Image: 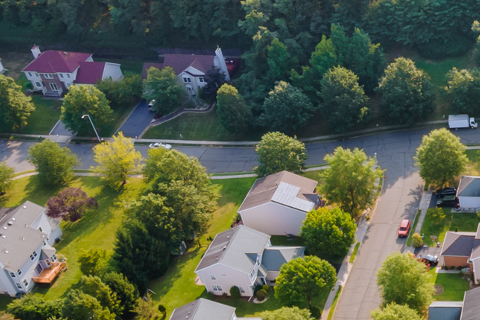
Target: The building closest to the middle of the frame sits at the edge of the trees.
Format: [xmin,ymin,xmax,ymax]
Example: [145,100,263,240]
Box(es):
[235,169,322,235]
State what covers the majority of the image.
trees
